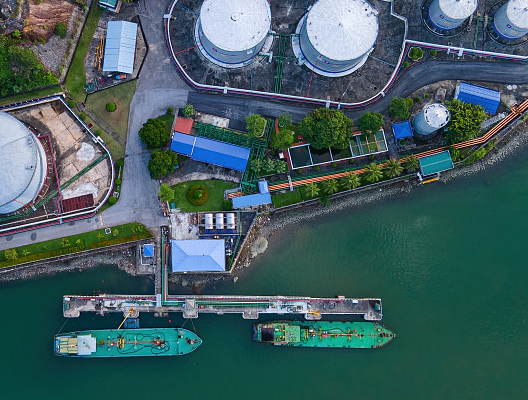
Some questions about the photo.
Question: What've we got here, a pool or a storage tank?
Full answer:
It is a storage tank that can be seen here.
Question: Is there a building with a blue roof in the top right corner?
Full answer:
Yes, I can see a building with a blue roof in the top right corner.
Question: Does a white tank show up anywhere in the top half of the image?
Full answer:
Yes, a white tank appears in the top half of the image.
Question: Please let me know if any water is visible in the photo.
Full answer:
Yes, the picture does contain water.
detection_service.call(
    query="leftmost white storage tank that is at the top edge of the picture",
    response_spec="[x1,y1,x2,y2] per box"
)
[195,0,272,66]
